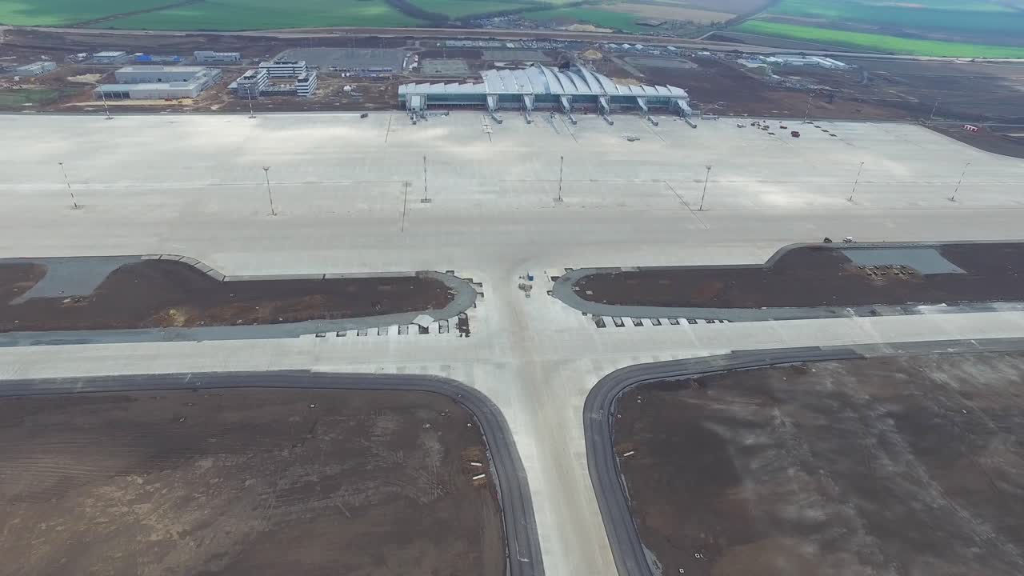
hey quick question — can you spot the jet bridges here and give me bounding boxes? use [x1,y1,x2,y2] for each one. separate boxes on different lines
[522,97,532,125]
[486,96,503,125]
[410,95,425,127]
[675,98,696,129]
[636,99,658,126]
[558,97,576,126]
[597,98,613,126]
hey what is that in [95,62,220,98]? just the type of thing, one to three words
building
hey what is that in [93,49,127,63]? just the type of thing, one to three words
building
